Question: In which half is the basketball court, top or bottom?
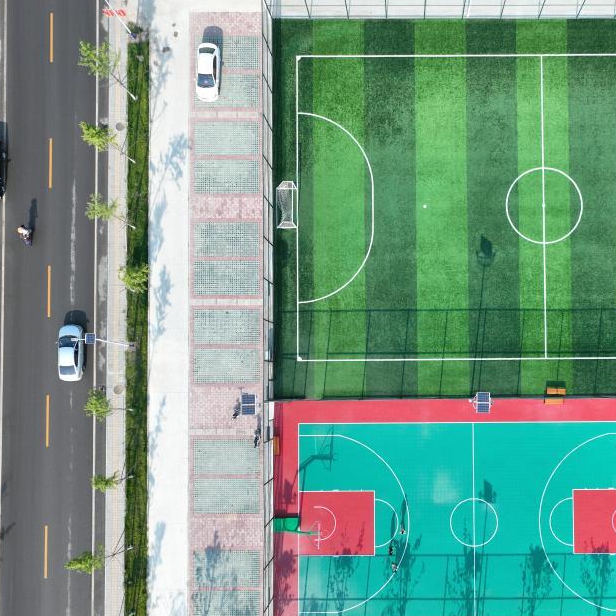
bottom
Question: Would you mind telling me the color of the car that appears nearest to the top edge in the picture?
white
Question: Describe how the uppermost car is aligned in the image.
vertically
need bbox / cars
[0,140,9,201]
[195,43,222,104]
[57,324,87,383]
